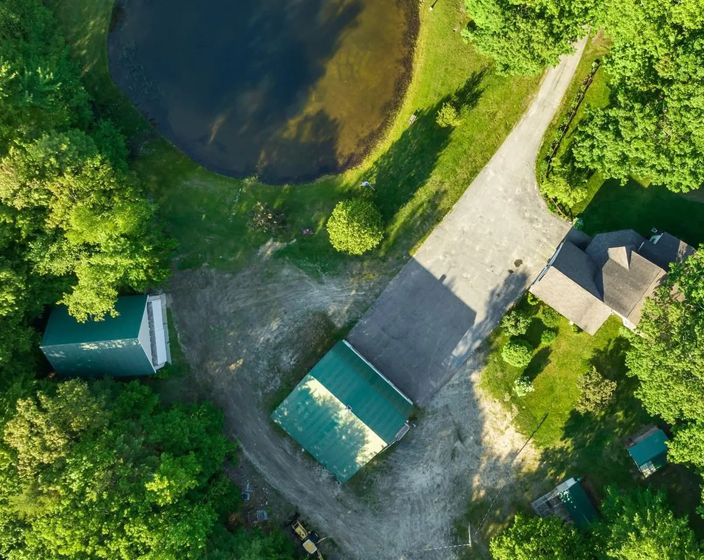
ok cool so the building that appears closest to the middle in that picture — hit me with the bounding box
[272,339,415,481]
